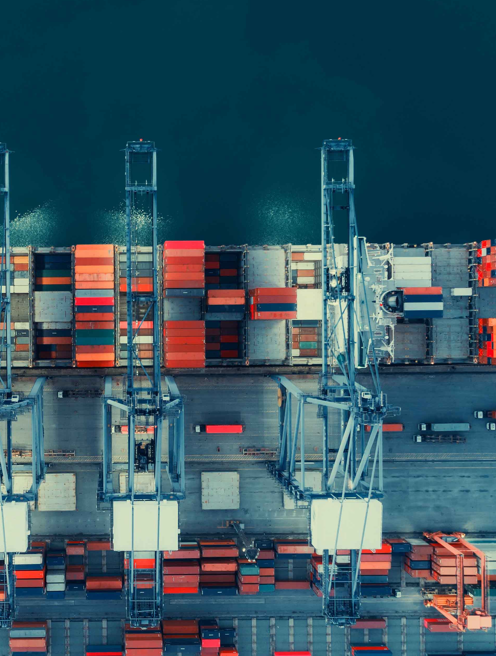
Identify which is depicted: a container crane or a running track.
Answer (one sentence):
The one in the frame is a container crane.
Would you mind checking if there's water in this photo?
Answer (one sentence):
Yes, water shows up in the scene.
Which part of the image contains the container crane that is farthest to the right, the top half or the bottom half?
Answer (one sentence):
It is in the bottom half that the container crane that is farthest to the right appears.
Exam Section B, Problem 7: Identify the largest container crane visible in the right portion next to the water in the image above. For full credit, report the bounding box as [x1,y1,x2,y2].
[263,135,388,628]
